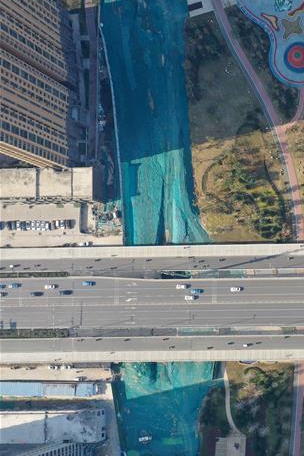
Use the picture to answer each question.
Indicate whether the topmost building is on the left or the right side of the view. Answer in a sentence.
The topmost building sits on the left side.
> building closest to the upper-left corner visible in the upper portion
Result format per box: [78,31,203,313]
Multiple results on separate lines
[0,0,69,169]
